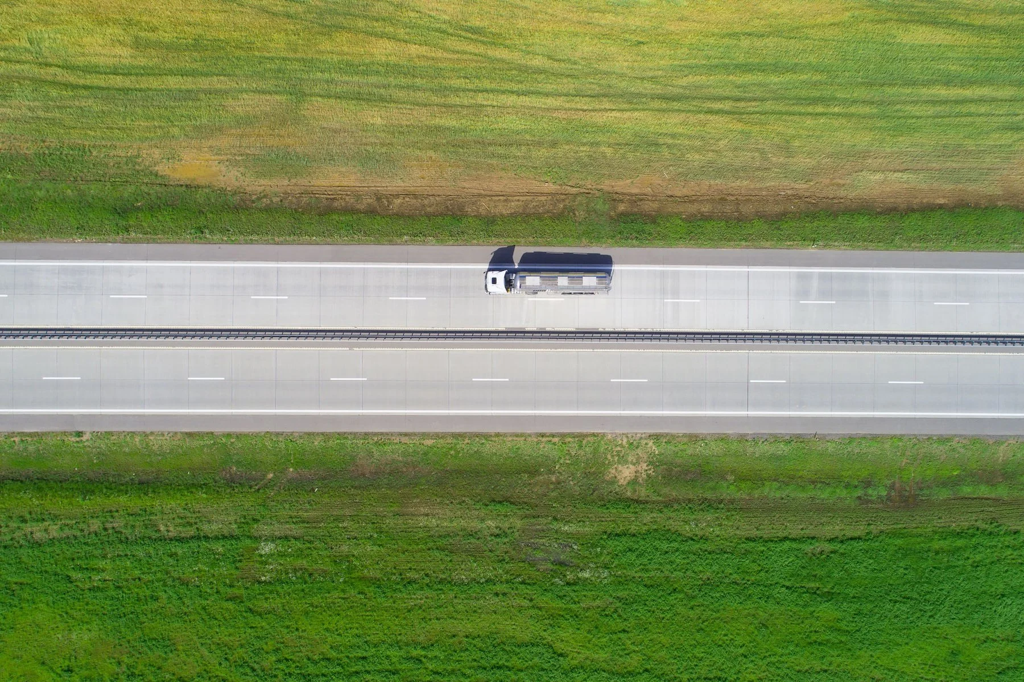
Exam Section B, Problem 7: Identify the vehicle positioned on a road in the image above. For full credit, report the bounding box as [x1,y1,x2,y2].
[484,268,612,296]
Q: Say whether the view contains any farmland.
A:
Yes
